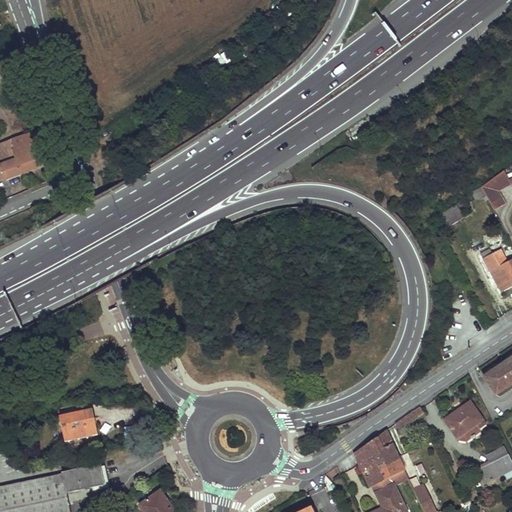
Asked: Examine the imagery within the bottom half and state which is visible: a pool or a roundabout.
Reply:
roundabout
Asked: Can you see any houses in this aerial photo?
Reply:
Yes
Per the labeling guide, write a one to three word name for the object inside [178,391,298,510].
roundabout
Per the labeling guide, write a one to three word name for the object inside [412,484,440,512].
shed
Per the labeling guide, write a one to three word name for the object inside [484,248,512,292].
house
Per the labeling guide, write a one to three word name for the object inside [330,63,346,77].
vehicle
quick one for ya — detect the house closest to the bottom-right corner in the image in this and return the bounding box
[482,446,512,480]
